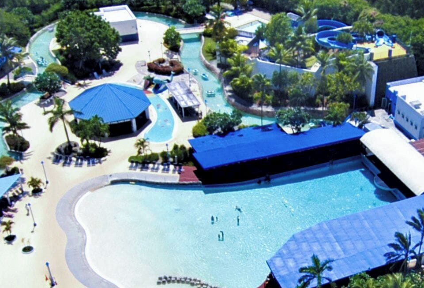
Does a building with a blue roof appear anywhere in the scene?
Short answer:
Yes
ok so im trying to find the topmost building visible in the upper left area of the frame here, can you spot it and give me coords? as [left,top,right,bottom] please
[91,4,139,45]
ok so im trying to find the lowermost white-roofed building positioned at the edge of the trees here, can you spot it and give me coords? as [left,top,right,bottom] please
[359,125,424,198]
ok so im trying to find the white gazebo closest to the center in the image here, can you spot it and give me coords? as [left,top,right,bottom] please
[165,81,198,120]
